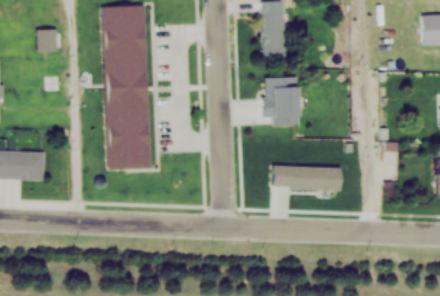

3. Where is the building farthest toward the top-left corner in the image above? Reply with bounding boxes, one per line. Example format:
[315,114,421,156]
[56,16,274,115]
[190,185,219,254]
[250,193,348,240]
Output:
[36,30,58,52]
